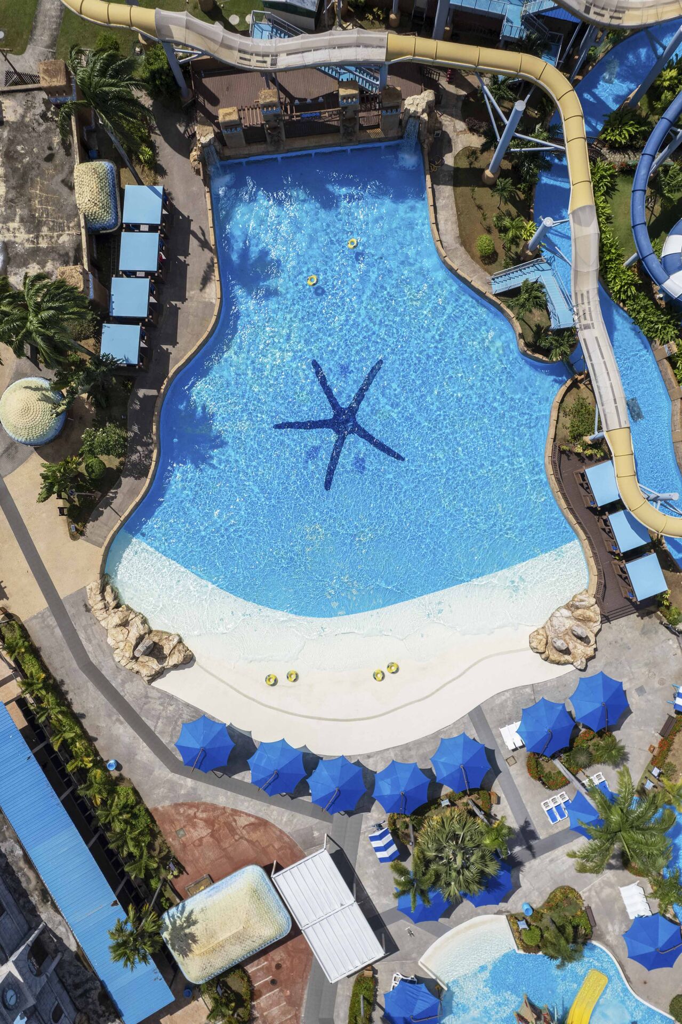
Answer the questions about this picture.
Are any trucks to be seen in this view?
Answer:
No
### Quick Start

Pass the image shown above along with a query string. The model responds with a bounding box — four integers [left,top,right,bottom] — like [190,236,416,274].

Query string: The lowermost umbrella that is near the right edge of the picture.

[621,904,682,965]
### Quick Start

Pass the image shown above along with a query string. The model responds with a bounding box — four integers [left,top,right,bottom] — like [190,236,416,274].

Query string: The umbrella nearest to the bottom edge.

[382,967,451,1024]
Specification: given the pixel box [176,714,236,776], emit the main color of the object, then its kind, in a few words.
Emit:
blue umbrella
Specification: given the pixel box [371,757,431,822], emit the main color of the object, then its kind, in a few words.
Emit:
blue umbrella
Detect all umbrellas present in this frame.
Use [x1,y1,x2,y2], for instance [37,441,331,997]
[457,853,511,908]
[306,753,367,814]
[394,862,452,924]
[382,967,451,1024]
[621,904,682,965]
[514,695,574,758]
[176,714,236,776]
[247,737,308,797]
[567,669,627,734]
[371,757,431,822]
[429,730,490,795]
